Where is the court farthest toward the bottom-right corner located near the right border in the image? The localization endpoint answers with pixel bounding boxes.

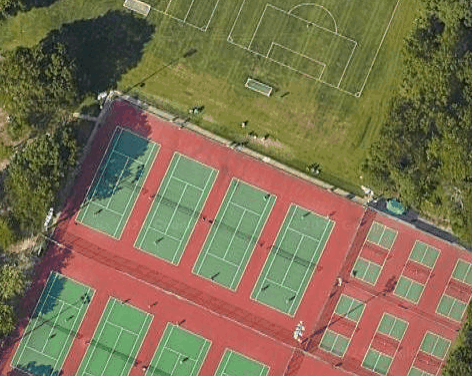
[408,332,451,376]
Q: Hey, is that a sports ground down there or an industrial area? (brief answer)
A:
sports ground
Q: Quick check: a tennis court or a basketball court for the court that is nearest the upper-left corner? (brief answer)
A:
tennis court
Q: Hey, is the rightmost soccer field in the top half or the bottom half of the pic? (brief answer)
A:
top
